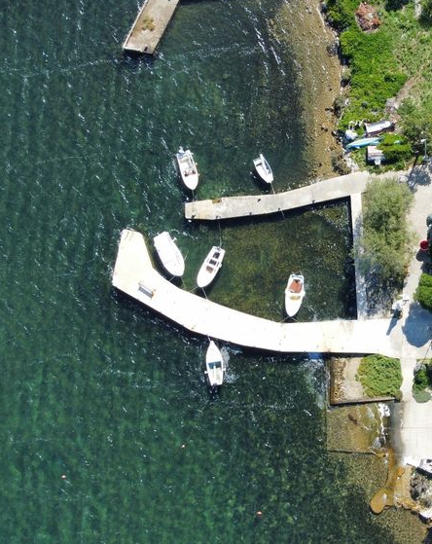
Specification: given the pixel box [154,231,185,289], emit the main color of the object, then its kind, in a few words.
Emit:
white boat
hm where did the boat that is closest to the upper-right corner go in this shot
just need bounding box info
[365,119,393,134]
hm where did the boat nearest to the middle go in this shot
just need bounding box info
[189,233,226,300]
